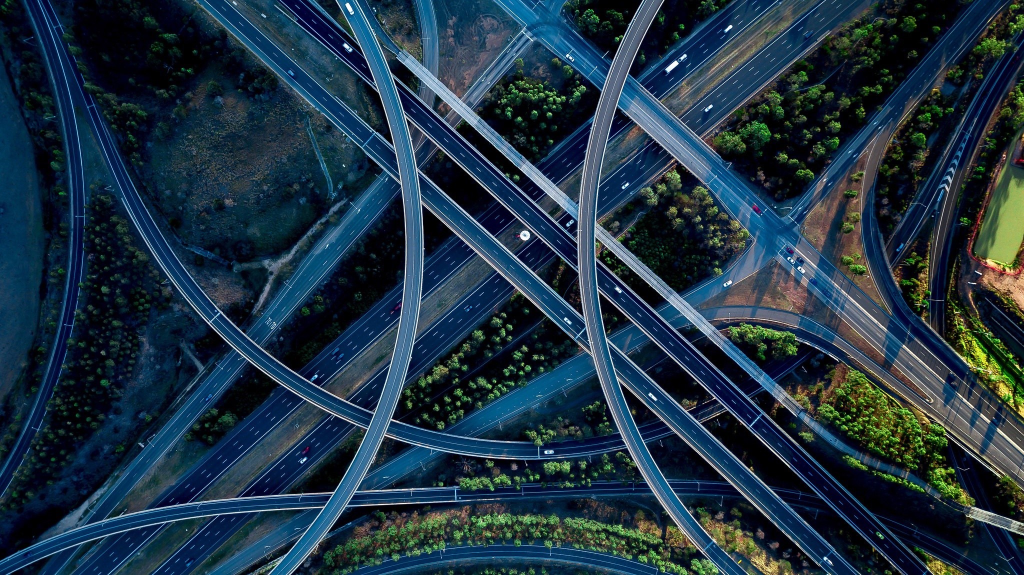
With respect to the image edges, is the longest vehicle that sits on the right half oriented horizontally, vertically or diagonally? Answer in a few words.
diagonally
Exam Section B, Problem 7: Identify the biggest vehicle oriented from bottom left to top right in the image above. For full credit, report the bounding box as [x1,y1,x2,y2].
[667,50,690,70]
